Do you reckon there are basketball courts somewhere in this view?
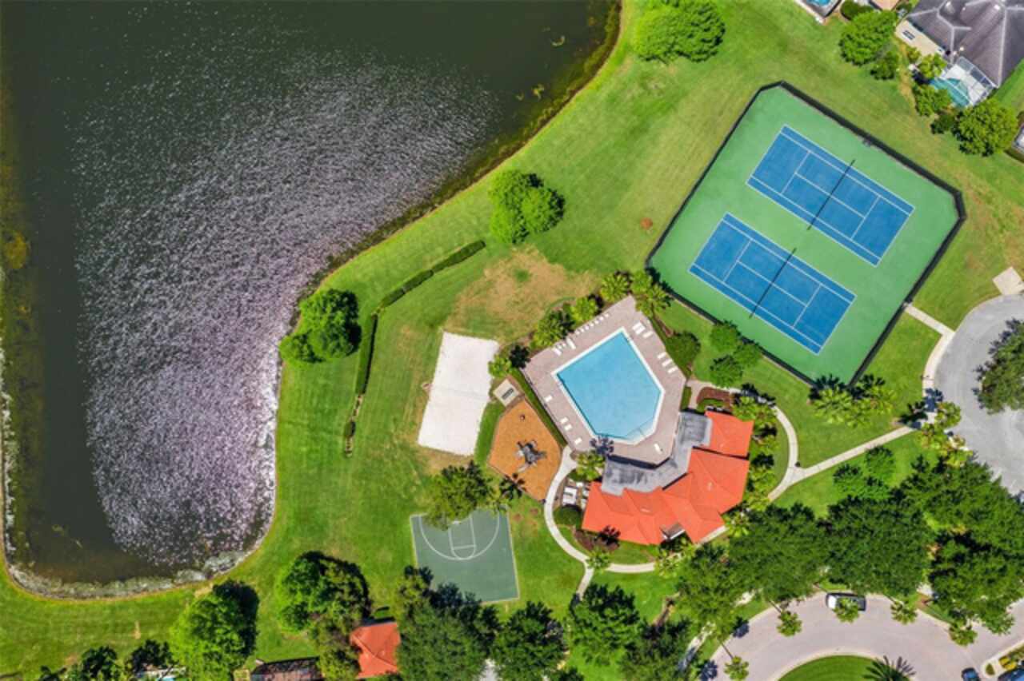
Yes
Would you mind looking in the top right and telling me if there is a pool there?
Yes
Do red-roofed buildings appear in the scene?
Yes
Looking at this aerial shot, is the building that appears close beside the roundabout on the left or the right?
right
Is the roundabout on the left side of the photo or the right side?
right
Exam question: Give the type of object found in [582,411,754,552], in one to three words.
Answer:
building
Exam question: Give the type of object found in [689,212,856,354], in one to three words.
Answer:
tennis court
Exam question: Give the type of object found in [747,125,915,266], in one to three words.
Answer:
tennis court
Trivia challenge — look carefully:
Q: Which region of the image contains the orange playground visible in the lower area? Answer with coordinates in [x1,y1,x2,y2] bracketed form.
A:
[488,400,562,501]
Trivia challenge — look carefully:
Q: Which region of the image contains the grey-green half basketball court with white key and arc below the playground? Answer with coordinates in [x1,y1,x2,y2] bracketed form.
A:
[410,508,519,609]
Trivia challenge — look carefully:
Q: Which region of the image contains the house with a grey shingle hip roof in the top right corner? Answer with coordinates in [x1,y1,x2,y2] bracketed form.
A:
[901,0,1024,88]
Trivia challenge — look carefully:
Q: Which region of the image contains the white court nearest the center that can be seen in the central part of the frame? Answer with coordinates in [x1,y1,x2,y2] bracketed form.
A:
[418,332,499,456]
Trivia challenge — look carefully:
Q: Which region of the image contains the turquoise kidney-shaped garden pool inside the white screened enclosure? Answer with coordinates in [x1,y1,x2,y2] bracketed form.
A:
[932,74,971,106]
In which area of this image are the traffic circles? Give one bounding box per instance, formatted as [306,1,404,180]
[706,589,1024,681]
